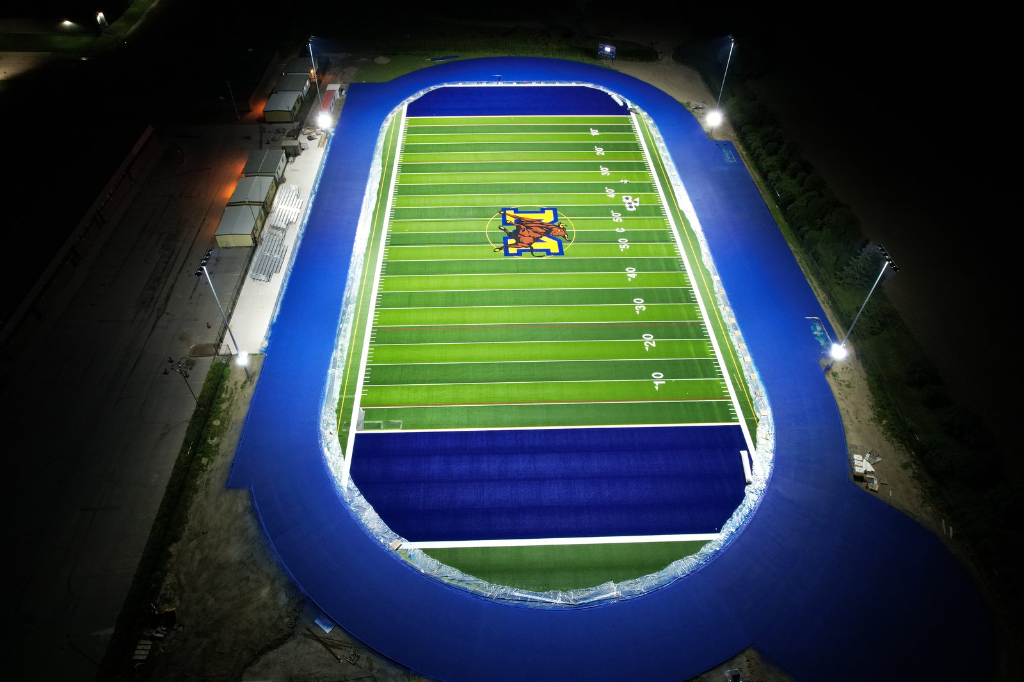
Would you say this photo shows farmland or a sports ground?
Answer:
sports ground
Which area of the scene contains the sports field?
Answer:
center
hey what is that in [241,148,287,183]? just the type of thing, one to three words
building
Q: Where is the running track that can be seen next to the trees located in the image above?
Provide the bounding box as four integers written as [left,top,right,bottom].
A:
[228,56,994,682]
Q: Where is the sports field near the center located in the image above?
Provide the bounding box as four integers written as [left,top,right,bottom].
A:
[320,81,774,608]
